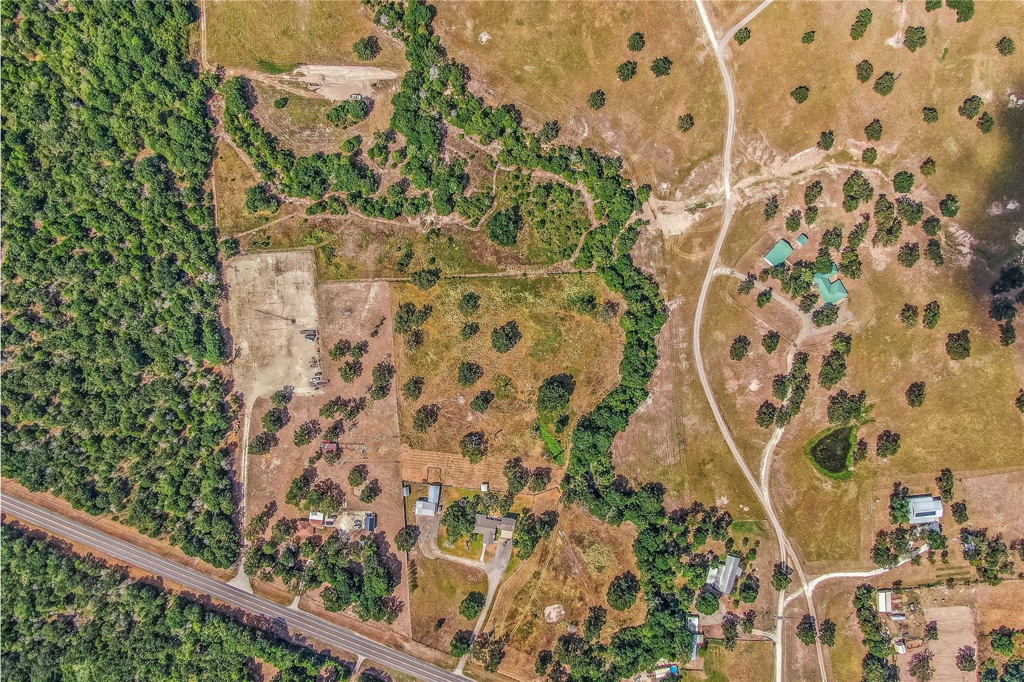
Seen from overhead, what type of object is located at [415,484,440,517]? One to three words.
building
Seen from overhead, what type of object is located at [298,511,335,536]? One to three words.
house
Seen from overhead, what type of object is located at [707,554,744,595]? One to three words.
house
